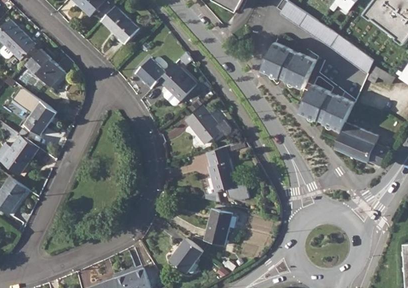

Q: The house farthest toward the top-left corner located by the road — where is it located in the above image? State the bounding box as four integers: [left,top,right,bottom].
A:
[0,19,38,61]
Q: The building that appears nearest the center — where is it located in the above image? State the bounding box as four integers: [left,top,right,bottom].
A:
[186,104,232,150]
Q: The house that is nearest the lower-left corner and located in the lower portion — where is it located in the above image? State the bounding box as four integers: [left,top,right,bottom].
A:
[0,176,32,217]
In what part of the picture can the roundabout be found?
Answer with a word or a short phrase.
bottom right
